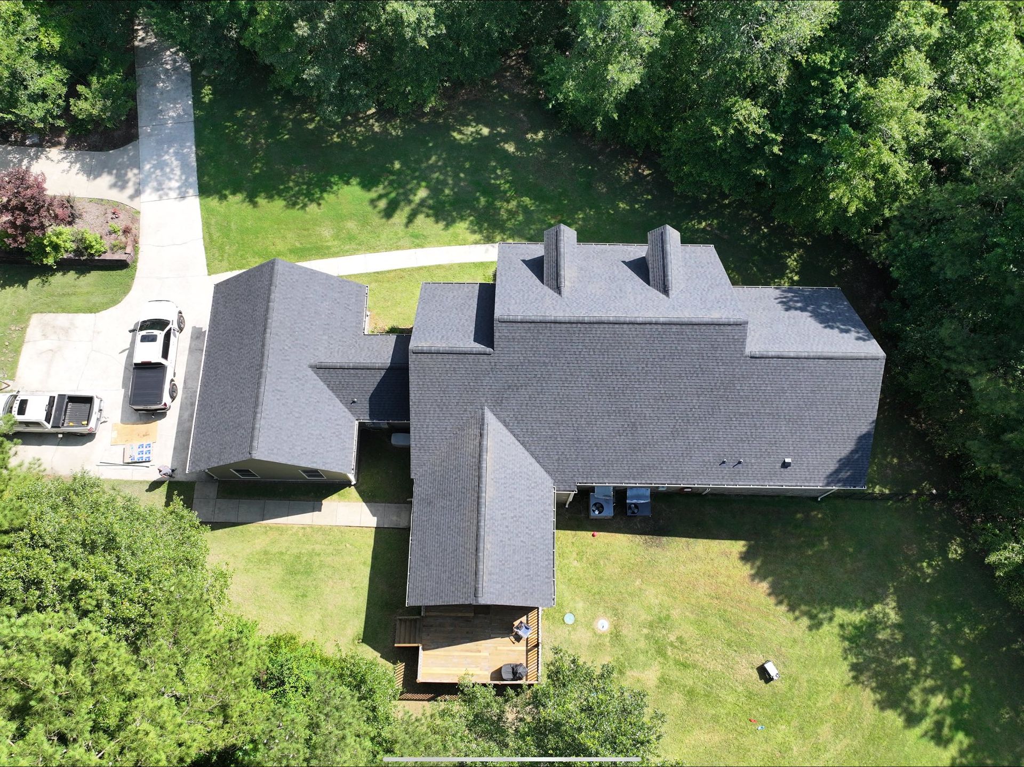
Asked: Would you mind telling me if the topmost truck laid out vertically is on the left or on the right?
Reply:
left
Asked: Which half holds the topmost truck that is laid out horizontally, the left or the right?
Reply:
left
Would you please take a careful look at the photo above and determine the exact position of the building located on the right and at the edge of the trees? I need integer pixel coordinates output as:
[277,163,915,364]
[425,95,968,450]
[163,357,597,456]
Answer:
[404,223,885,608]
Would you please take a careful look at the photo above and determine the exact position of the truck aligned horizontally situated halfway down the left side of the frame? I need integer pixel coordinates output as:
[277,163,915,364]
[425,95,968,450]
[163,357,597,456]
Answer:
[0,379,109,432]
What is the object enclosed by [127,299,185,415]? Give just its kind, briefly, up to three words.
truck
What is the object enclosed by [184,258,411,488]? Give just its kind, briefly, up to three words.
building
